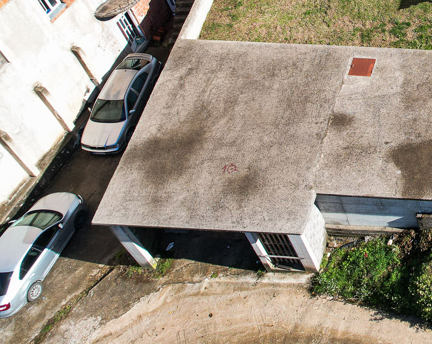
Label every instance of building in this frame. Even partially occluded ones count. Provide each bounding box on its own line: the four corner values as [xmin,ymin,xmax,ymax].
[0,0,177,233]
[93,39,432,280]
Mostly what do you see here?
buildings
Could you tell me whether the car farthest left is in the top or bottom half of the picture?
bottom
